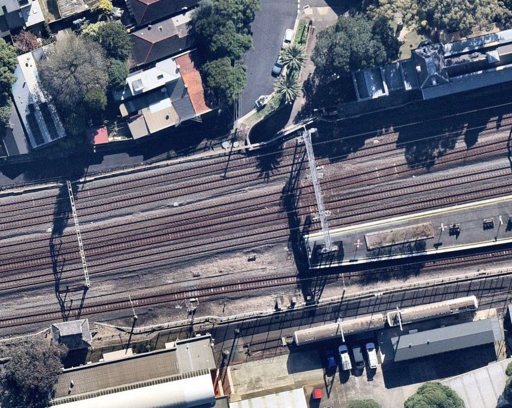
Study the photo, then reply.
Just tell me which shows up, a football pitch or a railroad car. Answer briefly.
railroad car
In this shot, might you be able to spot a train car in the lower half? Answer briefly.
Yes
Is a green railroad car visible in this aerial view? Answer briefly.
No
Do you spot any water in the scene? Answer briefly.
No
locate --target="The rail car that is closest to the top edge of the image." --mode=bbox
[387,294,479,327]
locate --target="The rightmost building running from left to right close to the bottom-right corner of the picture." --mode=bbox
[391,317,503,363]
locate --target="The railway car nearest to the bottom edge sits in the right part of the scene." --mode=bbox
[293,312,386,345]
